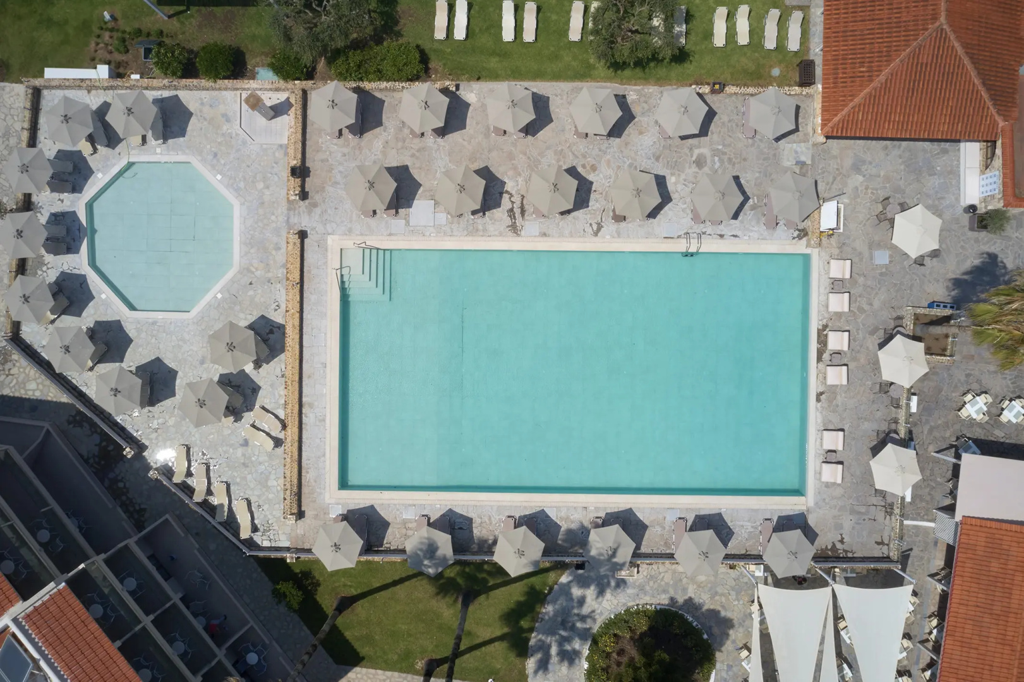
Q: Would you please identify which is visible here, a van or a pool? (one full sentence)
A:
Visible in the photo is a pool.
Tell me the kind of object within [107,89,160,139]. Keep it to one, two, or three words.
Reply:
umbrella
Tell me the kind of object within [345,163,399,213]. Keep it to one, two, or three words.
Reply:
umbrella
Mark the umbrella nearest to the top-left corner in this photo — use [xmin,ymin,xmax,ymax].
[46,93,96,147]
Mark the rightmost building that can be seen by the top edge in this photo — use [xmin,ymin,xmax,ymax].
[815,0,1022,142]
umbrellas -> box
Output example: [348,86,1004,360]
[761,527,815,578]
[746,87,794,142]
[3,146,61,194]
[486,81,537,135]
[610,169,663,221]
[527,163,579,217]
[0,212,56,261]
[45,324,99,372]
[311,519,364,571]
[869,439,921,492]
[876,331,928,385]
[5,275,61,324]
[345,163,399,213]
[689,174,744,222]
[675,528,729,578]
[582,522,636,574]
[655,88,709,138]
[310,82,360,136]
[400,80,452,134]
[768,171,820,224]
[492,524,545,577]
[180,376,233,428]
[889,205,941,259]
[435,164,487,217]
[569,86,623,136]
[107,89,160,139]
[97,364,147,419]
[46,93,96,147]
[210,319,259,374]
[404,520,455,574]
